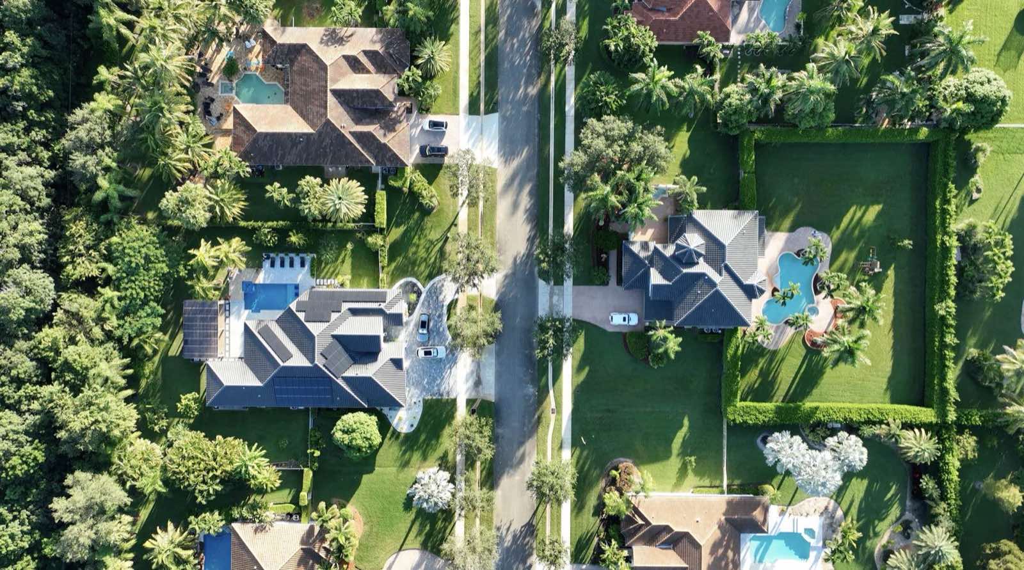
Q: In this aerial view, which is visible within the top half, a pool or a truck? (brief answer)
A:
pool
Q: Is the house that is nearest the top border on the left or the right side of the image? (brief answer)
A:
right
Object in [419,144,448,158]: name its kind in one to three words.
car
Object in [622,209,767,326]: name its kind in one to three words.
house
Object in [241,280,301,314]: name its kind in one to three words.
swimming pool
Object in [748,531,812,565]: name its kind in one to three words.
swimming pool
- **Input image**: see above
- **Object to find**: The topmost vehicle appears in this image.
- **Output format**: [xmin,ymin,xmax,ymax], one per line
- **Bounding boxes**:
[423,119,448,132]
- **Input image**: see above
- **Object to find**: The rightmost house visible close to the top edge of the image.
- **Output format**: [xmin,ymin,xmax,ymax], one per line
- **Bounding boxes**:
[631,0,732,48]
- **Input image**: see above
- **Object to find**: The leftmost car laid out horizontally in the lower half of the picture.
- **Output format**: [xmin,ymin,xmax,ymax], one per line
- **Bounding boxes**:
[417,346,446,359]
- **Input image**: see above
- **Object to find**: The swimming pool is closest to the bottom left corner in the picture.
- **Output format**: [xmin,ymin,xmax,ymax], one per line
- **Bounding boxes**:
[203,532,231,570]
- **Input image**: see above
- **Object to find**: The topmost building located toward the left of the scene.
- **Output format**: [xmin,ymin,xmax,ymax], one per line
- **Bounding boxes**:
[232,27,410,166]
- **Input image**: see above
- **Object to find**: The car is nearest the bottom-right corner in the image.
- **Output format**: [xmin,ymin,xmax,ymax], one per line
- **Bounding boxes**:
[609,312,638,326]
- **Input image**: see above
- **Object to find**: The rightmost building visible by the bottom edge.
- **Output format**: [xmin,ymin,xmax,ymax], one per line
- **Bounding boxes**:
[620,494,770,570]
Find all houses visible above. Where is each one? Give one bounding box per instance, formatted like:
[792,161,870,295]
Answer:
[631,0,732,48]
[622,209,767,326]
[230,520,340,570]
[206,287,407,408]
[232,27,410,166]
[620,494,770,570]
